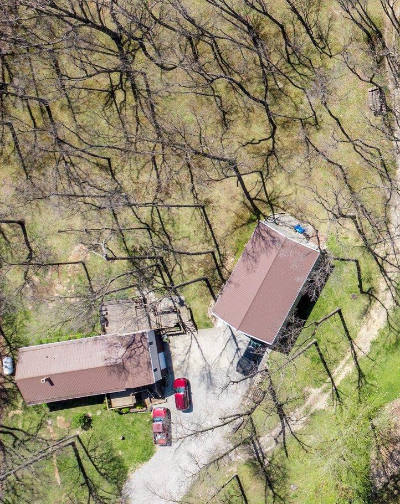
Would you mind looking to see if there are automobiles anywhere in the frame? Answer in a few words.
Yes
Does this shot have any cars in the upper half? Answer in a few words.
No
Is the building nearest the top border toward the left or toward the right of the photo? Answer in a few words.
right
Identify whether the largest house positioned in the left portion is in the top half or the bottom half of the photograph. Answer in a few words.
bottom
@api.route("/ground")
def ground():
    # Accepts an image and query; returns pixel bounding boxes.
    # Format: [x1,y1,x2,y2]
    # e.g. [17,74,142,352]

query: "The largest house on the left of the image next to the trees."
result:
[13,328,170,405]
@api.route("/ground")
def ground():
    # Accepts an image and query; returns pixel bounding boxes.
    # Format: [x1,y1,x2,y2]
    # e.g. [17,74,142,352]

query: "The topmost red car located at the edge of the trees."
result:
[172,377,191,411]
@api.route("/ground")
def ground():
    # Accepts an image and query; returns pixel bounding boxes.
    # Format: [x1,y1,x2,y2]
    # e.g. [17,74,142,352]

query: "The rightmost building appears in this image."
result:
[212,220,324,344]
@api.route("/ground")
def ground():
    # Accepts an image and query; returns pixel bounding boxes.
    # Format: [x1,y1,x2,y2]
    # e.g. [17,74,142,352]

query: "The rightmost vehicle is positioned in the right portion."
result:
[237,339,263,372]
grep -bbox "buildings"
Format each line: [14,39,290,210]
[212,220,324,344]
[13,328,170,405]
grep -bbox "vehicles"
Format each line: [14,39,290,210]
[172,377,191,411]
[153,407,171,448]
[237,339,263,372]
